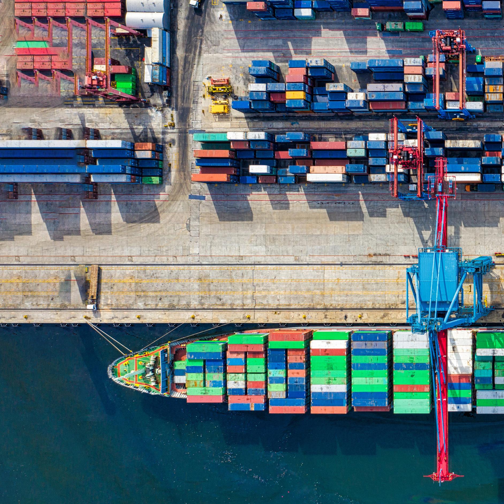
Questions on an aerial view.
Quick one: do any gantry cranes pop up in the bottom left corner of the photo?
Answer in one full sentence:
No, I see no gantry crane in the bottom left corner of the photo.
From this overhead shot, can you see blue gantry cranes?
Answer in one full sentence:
Yes, the frame does contain a blue gantry crane.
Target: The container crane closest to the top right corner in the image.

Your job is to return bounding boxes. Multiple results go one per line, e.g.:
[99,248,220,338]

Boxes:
[430,29,476,119]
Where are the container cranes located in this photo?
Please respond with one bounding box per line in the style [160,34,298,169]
[407,156,495,491]
[388,118,437,200]
[15,15,87,104]
[430,29,476,119]
[51,15,120,104]
[79,15,154,104]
